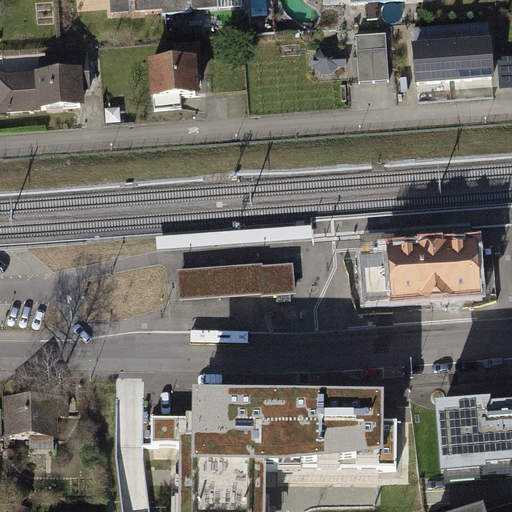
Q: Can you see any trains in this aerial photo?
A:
No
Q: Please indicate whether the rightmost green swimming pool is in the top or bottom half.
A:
top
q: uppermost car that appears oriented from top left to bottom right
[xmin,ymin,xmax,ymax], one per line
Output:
[73,321,92,342]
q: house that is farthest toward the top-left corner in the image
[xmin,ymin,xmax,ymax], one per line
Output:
[0,55,90,113]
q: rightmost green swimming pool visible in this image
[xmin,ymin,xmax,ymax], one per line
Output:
[279,0,322,30]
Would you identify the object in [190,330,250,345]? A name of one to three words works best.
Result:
vehicle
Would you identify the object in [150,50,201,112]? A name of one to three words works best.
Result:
house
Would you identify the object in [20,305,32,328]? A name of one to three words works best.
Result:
vehicle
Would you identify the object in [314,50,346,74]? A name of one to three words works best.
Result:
shed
